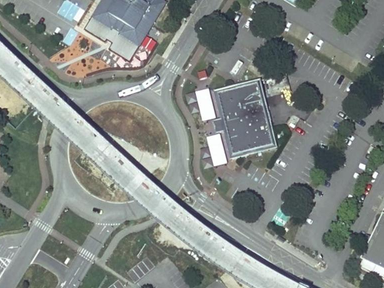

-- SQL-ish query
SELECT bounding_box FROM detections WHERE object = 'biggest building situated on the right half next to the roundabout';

[214,78,277,158]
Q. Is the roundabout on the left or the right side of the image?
left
